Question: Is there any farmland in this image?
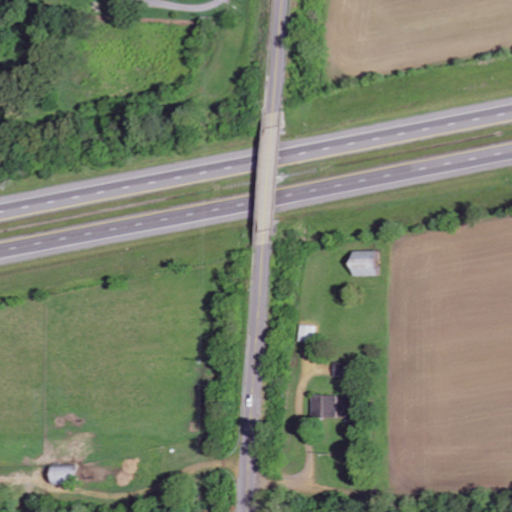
Yes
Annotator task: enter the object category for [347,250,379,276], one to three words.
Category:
barn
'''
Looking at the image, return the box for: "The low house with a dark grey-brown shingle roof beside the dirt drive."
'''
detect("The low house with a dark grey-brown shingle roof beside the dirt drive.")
[310,394,341,420]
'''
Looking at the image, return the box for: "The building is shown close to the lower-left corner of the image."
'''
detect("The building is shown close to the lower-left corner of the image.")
[47,464,81,486]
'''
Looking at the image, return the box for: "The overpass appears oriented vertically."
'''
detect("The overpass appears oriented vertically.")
[252,112,287,244]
